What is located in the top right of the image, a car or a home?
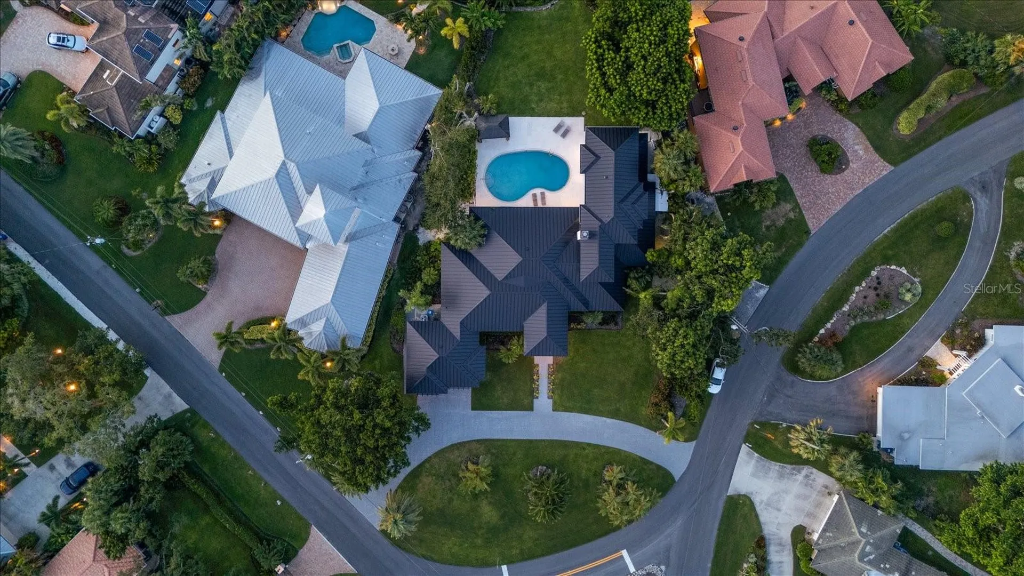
home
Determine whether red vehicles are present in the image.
No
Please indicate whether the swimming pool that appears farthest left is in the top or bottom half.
top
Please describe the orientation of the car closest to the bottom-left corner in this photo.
diagonally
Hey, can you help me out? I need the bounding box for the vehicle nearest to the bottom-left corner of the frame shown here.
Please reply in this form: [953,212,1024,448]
[59,459,99,495]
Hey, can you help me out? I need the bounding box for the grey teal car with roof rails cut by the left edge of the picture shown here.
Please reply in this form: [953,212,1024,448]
[0,71,25,113]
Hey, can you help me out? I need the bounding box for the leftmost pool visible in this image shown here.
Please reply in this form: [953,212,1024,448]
[300,3,378,58]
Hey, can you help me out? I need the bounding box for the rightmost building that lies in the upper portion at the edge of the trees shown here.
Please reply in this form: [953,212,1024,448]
[692,0,915,193]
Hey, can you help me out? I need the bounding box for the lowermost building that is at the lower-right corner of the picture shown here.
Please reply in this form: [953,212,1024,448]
[806,488,949,576]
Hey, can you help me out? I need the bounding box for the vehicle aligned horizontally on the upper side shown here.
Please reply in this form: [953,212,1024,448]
[45,32,89,54]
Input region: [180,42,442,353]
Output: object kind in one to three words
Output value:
house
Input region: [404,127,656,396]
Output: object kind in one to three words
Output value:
house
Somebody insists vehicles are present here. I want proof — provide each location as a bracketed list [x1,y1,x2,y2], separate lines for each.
[0,71,25,113]
[59,459,99,495]
[45,32,89,54]
[706,357,728,394]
